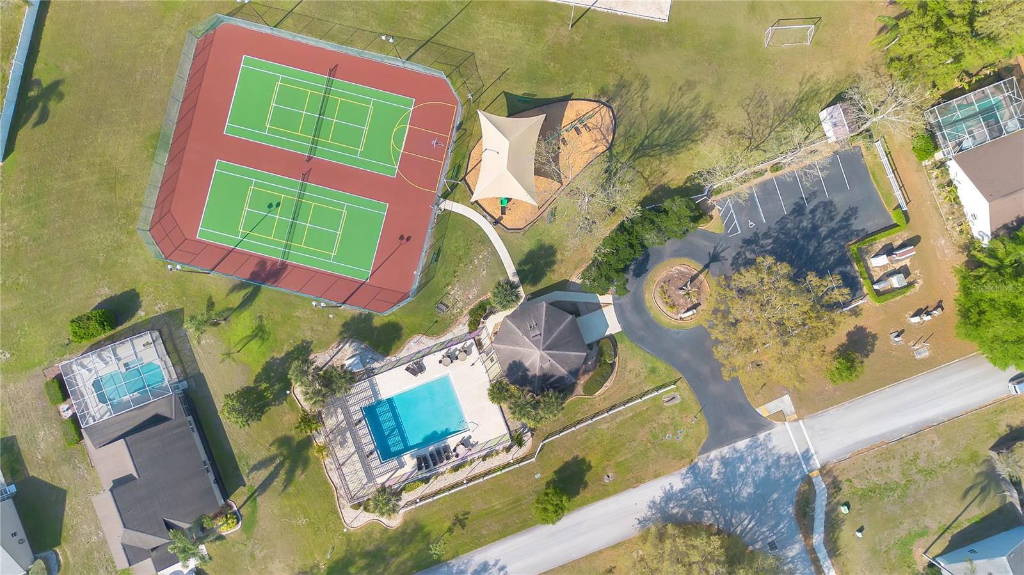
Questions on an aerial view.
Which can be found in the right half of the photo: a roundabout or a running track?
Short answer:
roundabout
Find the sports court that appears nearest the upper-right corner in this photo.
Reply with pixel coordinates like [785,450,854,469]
[551,0,672,21]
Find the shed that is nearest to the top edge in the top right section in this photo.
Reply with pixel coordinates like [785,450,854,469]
[812,100,865,145]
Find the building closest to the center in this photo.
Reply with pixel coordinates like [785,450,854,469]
[494,303,591,398]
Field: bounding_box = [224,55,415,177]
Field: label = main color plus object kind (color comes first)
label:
green tennis court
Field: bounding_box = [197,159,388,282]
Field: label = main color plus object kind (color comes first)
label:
green tennis court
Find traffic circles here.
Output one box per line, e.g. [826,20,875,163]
[625,238,730,350]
